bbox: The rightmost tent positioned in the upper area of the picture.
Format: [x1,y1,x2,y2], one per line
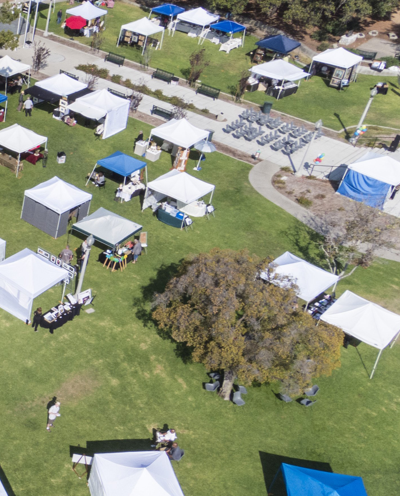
[338,154,400,212]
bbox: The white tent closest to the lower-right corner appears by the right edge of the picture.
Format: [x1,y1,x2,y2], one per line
[306,289,400,376]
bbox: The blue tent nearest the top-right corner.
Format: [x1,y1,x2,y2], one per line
[249,33,301,65]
